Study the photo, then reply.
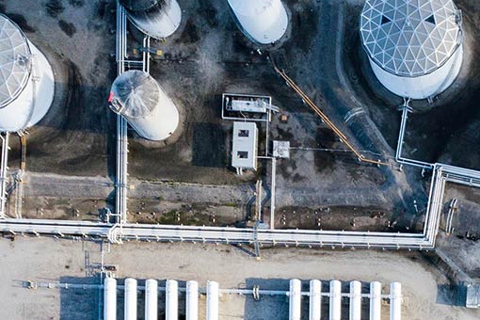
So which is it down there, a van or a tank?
tank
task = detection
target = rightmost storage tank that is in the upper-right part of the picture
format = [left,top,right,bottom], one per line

[360,0,468,102]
